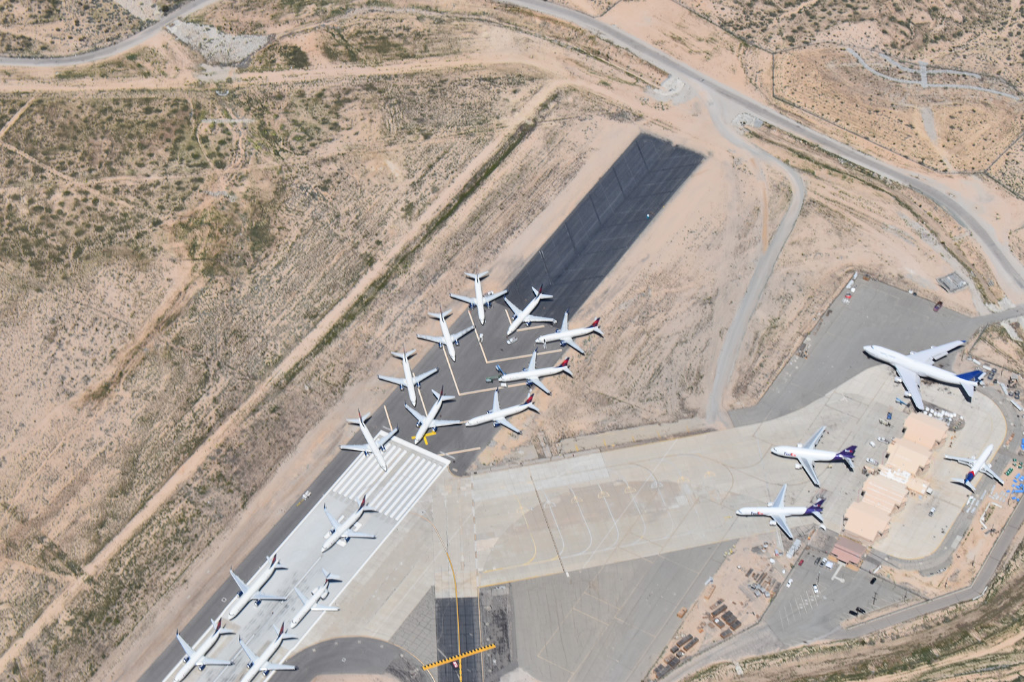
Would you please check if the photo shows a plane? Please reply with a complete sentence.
Yes, a plane appears in the view.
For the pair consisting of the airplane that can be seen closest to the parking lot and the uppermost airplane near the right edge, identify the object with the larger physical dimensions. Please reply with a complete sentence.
It is the uppermost airplane near the right edge that is larger, not the airplane that can be seen closest to the parking lot.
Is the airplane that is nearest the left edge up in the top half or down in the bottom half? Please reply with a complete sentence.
It is in the bottom half that the airplane that is nearest the left edge appears.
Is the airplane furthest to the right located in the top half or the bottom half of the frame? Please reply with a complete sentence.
The airplane furthest to the right is in the bottom half of the image.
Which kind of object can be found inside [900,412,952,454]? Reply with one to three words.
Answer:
hangar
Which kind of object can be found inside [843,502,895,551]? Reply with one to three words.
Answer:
hangar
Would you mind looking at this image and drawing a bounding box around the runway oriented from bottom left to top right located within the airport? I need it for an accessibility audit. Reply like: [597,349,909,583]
[163,429,452,682]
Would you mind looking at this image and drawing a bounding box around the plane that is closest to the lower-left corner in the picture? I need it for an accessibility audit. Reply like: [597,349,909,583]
[173,619,234,682]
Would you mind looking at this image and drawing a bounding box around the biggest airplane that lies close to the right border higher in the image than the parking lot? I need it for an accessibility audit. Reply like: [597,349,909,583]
[864,337,983,410]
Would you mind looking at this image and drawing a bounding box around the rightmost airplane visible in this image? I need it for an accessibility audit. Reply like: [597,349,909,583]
[948,447,1003,485]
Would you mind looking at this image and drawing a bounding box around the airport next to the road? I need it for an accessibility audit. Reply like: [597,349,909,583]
[139,133,1024,682]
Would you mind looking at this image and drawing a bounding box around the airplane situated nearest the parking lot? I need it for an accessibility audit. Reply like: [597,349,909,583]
[736,485,823,538]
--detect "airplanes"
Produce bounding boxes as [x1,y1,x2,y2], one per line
[948,447,1003,485]
[498,346,571,393]
[416,304,475,362]
[229,556,287,620]
[404,386,462,444]
[448,272,509,325]
[536,307,602,352]
[173,619,234,682]
[771,424,857,484]
[864,337,983,410]
[240,624,299,682]
[339,410,397,471]
[504,285,556,335]
[322,497,378,553]
[376,343,438,406]
[736,485,823,538]
[466,386,538,432]
[291,569,339,629]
